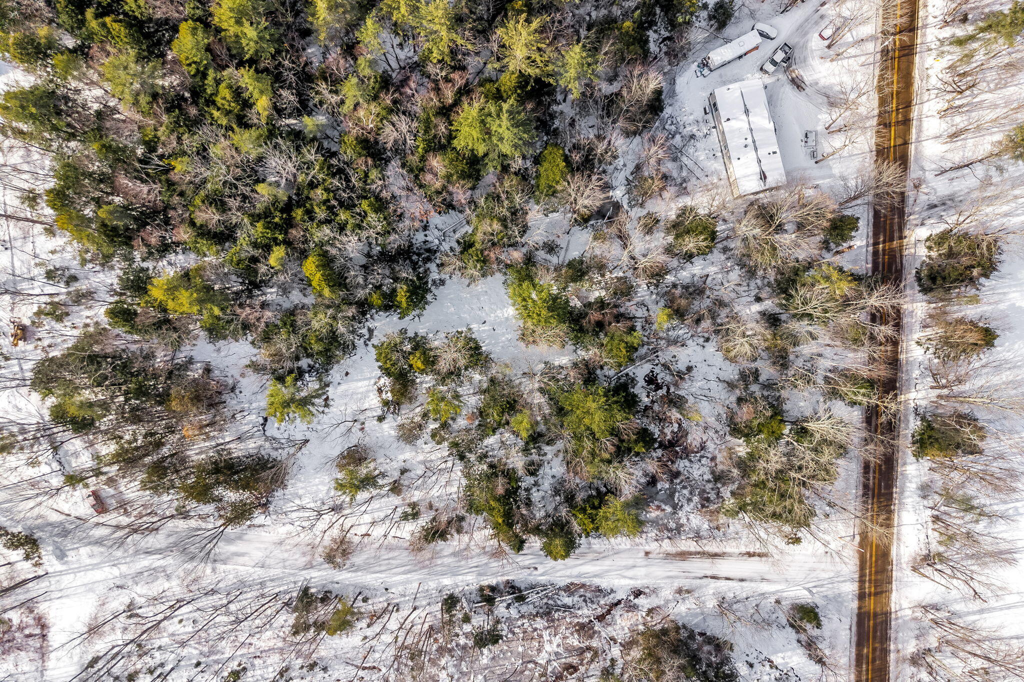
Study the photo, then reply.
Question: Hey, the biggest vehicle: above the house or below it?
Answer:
above it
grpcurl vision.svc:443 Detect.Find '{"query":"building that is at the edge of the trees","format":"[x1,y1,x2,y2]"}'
[710,78,787,196]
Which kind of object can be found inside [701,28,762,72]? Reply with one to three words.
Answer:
vehicle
